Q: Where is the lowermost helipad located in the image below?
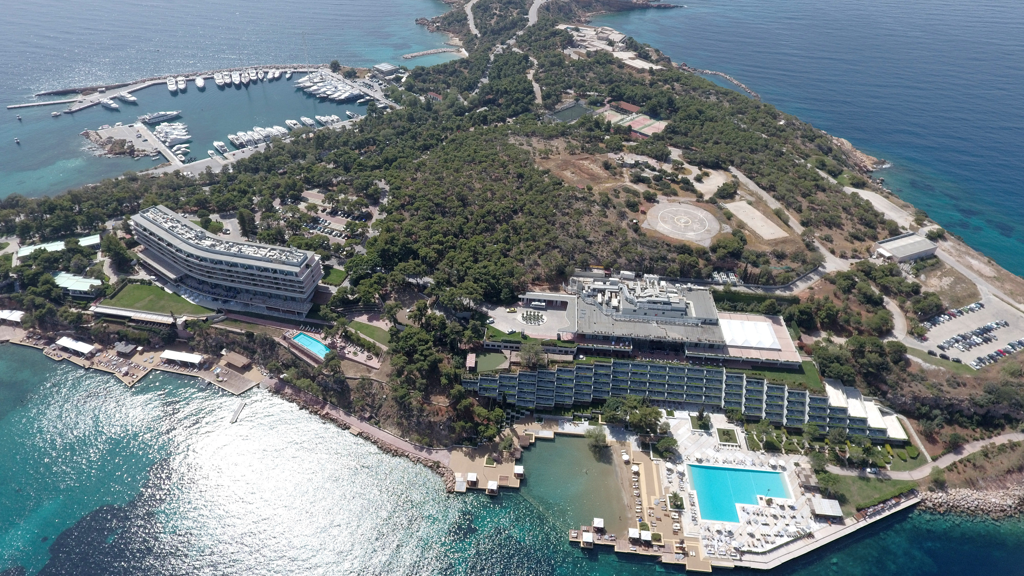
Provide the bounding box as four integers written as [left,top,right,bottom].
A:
[645,202,722,242]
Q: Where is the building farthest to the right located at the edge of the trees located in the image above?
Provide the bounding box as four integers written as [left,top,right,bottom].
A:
[874,230,939,267]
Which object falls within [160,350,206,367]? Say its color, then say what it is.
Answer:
white tent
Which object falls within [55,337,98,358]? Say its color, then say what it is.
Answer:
white tent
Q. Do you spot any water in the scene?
Yes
